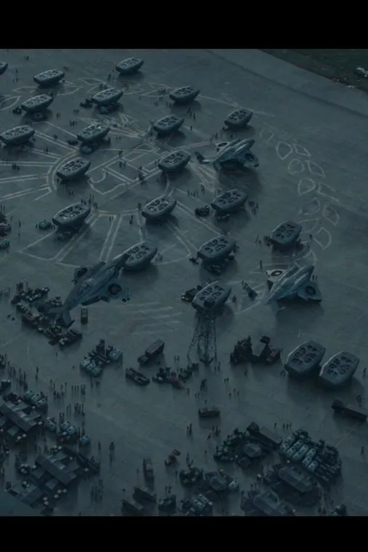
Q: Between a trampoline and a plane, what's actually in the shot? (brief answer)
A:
plane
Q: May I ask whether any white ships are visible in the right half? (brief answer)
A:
No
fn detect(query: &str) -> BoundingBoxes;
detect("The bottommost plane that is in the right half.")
[250,269,314,313]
